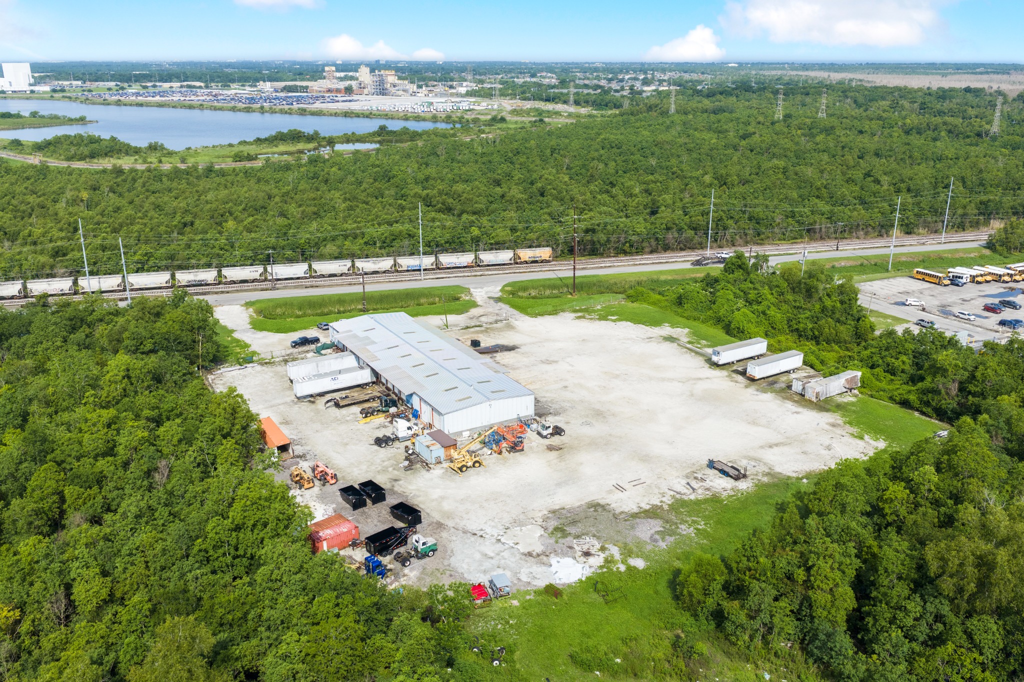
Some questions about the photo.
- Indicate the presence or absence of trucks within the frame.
Yes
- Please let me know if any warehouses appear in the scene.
Yes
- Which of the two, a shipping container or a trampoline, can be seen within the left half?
shipping container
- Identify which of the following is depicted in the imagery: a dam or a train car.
train car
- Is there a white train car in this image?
Yes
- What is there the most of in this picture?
trees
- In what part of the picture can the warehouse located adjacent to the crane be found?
center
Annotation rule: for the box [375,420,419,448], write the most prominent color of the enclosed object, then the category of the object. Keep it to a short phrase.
white truck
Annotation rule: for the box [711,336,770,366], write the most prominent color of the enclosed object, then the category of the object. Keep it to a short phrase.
white trailer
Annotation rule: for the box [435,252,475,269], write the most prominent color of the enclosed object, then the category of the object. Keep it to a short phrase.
white rail car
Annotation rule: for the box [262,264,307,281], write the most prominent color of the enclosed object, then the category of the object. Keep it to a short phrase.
white rail car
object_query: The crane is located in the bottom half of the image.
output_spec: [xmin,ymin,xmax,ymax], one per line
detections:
[446,424,497,477]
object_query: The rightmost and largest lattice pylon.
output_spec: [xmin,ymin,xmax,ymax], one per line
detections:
[988,93,1005,131]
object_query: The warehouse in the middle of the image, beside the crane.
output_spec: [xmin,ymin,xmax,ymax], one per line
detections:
[329,312,537,437]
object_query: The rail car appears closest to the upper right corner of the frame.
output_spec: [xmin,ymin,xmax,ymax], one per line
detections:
[515,247,553,263]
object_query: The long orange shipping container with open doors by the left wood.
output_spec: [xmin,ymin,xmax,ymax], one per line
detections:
[261,417,298,463]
